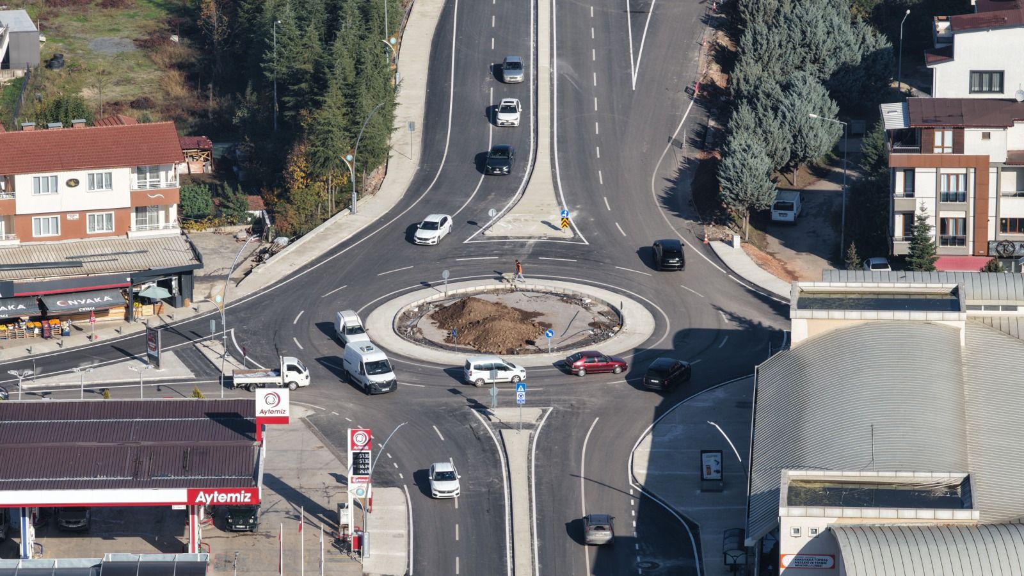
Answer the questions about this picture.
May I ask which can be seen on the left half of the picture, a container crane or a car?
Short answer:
car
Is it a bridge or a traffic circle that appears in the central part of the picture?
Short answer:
traffic circle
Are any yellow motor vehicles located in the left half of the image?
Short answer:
No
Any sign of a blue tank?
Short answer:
No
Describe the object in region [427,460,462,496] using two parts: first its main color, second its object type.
white car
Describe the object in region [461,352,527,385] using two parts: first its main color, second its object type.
white van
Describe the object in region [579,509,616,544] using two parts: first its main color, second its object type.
gray car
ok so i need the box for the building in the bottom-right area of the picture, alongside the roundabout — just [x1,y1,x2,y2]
[744,269,1024,576]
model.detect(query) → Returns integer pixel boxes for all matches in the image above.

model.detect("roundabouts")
[367,276,655,367]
